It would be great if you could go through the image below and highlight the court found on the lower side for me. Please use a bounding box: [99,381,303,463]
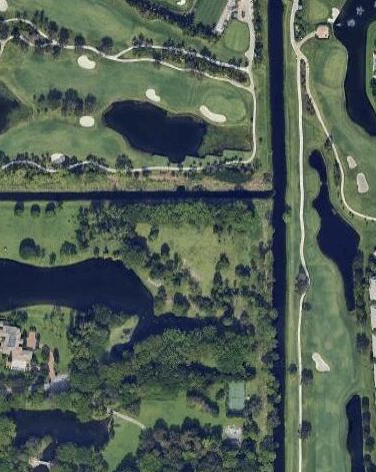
[228,380,245,409]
